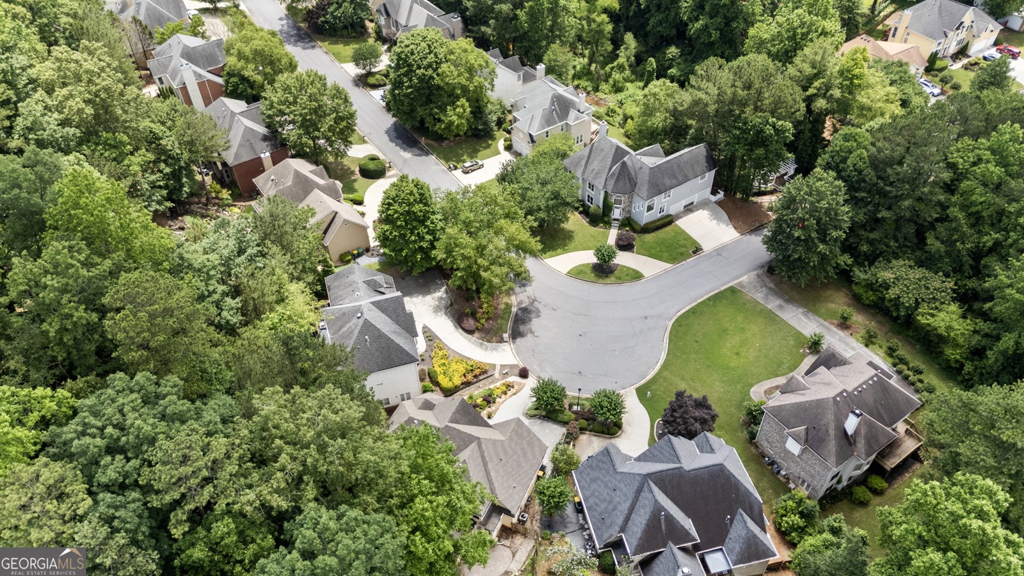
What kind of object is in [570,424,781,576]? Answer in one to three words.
house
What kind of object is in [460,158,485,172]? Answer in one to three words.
car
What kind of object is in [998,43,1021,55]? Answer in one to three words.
vehicle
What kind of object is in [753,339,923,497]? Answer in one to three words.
house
